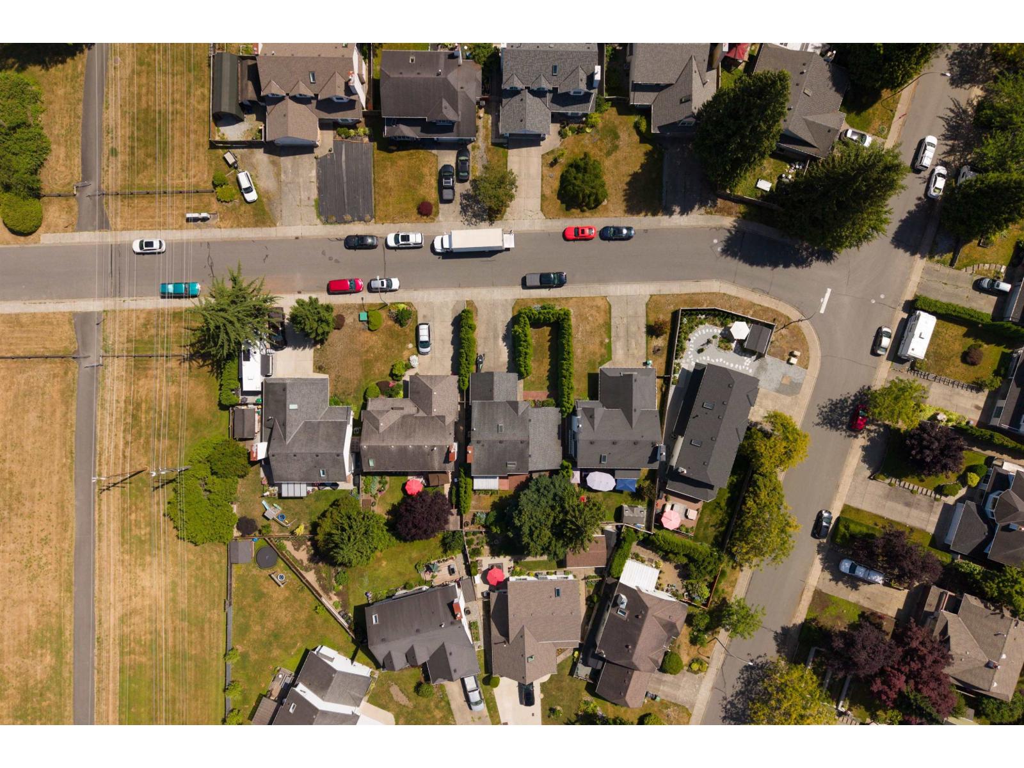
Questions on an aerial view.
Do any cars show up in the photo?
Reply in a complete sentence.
Yes, a car appears in the view.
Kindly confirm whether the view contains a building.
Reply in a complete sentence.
Yes, you can see a building in this photo.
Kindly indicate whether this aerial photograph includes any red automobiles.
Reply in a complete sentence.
Yes, looking at the shot, I can spot a red automobile.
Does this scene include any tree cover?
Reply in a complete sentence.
Yes, the picture does contain tree cover.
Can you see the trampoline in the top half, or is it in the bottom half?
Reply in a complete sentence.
You can find the trampoline in the bottom half.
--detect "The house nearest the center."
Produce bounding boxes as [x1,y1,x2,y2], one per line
[466,372,564,477]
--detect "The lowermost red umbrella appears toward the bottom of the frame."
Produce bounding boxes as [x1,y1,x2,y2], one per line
[487,567,504,585]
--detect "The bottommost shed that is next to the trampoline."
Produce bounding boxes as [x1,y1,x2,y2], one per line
[231,538,258,565]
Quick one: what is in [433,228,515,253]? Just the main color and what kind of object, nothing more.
white truck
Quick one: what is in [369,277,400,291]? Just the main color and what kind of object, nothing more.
white car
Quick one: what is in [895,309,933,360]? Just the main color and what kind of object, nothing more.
white camper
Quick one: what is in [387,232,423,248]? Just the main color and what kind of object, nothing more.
white car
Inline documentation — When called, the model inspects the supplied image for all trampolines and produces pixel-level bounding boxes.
[254,547,274,569]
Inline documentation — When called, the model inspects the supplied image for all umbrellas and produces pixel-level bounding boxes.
[729,322,749,339]
[661,508,681,528]
[405,478,422,494]
[487,567,504,585]
[587,472,615,491]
